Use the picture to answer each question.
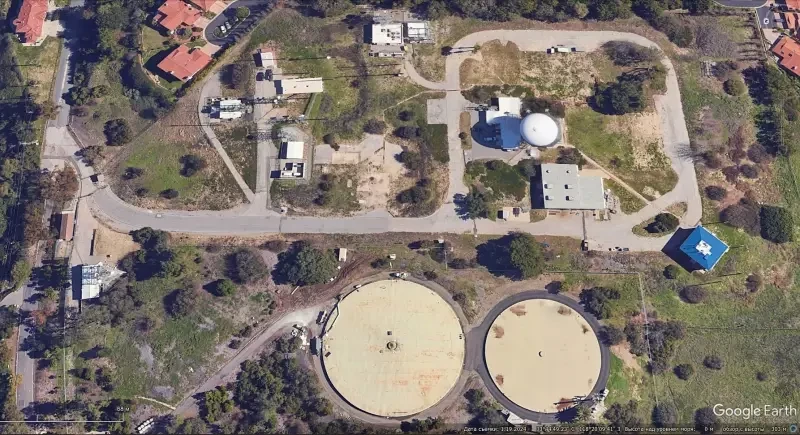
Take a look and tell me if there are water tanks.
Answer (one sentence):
Yes, a water tank is visible in the scene.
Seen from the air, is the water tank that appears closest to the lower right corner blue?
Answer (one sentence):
No, the color of the water tank that appears closest to the lower right corner is white.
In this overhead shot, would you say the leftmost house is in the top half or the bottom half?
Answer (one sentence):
The top half of the photo is where the leftmost house is.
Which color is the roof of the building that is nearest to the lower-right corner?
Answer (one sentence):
From above, the roof of the building that is nearest to the lower-right corner looks blue.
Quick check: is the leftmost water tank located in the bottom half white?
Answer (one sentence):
Yes, the leftmost water tank located in the bottom half is white.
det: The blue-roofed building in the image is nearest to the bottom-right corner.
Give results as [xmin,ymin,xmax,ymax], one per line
[679,224,730,271]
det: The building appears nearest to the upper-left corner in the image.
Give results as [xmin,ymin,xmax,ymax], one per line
[11,0,46,43]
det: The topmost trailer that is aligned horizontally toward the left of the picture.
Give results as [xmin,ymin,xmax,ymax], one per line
[281,77,323,94]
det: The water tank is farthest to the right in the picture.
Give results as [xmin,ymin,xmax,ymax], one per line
[485,297,602,414]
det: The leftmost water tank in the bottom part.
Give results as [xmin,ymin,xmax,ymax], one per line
[323,278,463,418]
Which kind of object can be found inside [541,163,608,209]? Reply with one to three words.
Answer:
building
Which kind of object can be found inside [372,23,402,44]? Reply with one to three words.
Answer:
building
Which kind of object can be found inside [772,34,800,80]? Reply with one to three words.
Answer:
house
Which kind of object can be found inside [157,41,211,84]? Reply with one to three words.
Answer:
house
